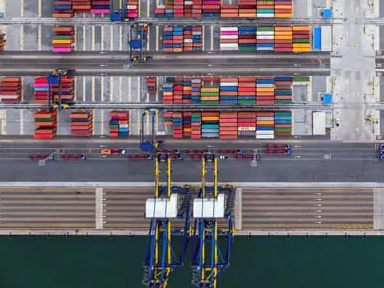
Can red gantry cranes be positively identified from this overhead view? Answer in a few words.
No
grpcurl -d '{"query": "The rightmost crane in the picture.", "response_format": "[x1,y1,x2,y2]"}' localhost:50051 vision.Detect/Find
[185,155,242,288]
